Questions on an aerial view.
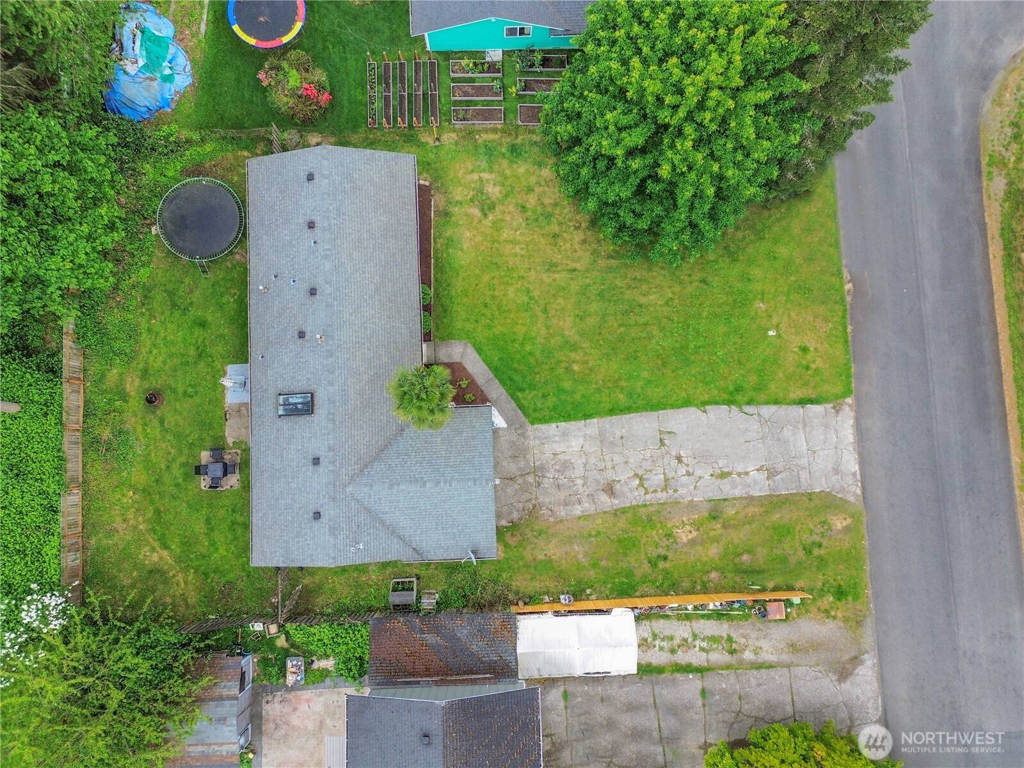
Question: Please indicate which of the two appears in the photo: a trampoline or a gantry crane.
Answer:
trampoline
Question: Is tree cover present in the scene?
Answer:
Yes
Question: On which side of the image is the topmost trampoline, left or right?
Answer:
left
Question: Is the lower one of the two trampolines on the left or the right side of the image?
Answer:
left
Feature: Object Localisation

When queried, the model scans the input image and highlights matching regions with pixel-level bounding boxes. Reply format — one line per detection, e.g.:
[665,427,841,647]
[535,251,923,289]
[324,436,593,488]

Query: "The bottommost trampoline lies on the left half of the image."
[157,176,245,264]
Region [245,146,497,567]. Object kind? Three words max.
house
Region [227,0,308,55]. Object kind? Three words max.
trampoline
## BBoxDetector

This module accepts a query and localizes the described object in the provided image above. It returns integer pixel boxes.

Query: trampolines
[157,176,245,264]
[227,0,308,55]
